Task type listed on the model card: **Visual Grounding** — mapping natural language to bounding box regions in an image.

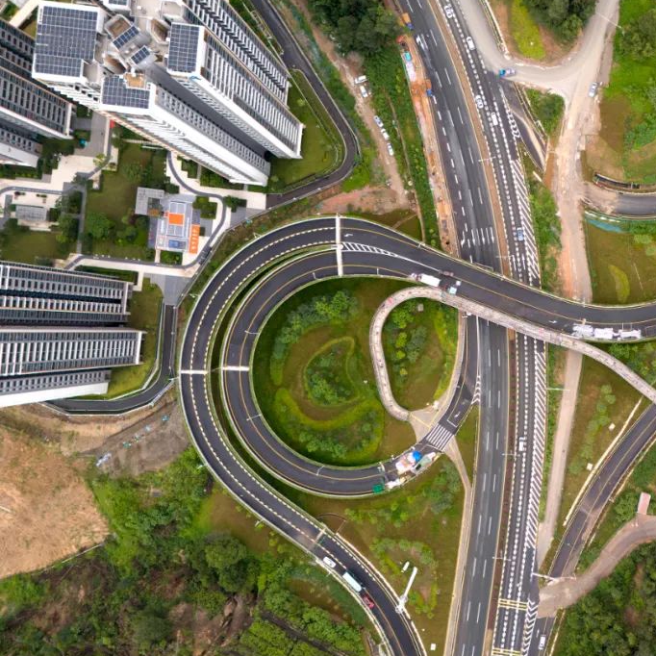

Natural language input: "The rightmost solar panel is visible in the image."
[168,23,199,73]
